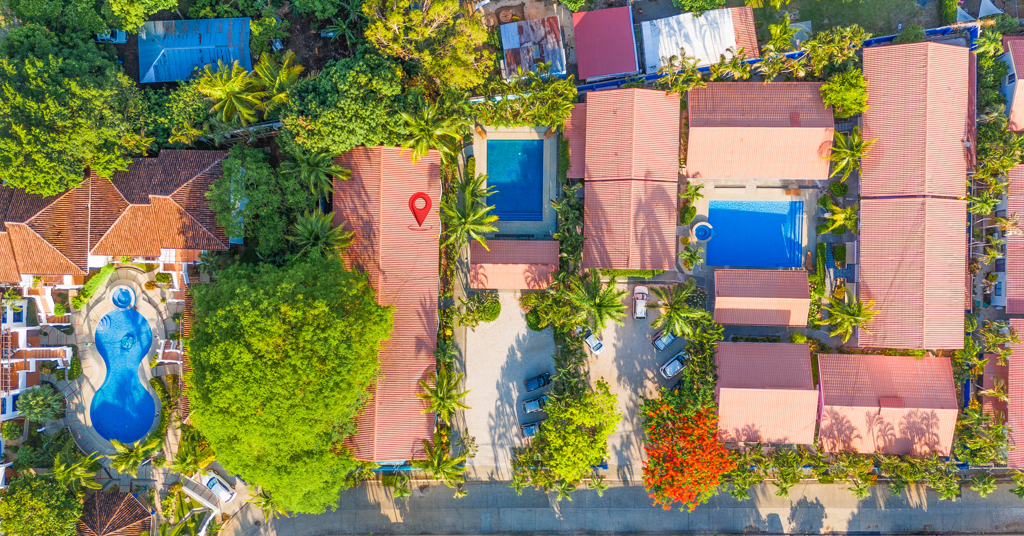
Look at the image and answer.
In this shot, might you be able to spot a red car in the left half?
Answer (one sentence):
No, no red car can be made out in the left half.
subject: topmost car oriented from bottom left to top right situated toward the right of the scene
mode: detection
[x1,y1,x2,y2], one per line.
[650,325,685,354]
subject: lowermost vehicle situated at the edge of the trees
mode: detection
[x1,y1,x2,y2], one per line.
[204,470,241,504]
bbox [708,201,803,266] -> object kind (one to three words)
swimming pool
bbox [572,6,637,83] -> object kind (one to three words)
house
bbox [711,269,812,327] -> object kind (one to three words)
shed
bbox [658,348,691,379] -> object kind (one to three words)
car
